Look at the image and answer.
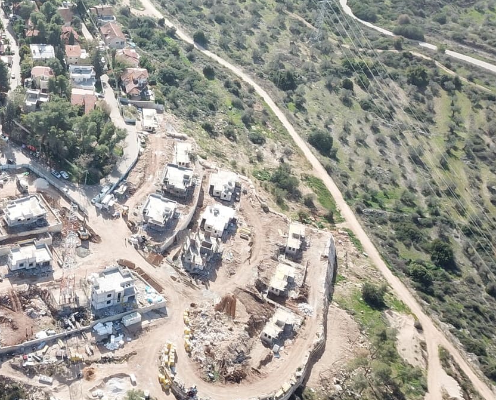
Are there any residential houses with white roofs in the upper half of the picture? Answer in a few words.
Yes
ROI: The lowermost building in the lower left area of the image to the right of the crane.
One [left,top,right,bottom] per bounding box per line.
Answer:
[116,307,151,328]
